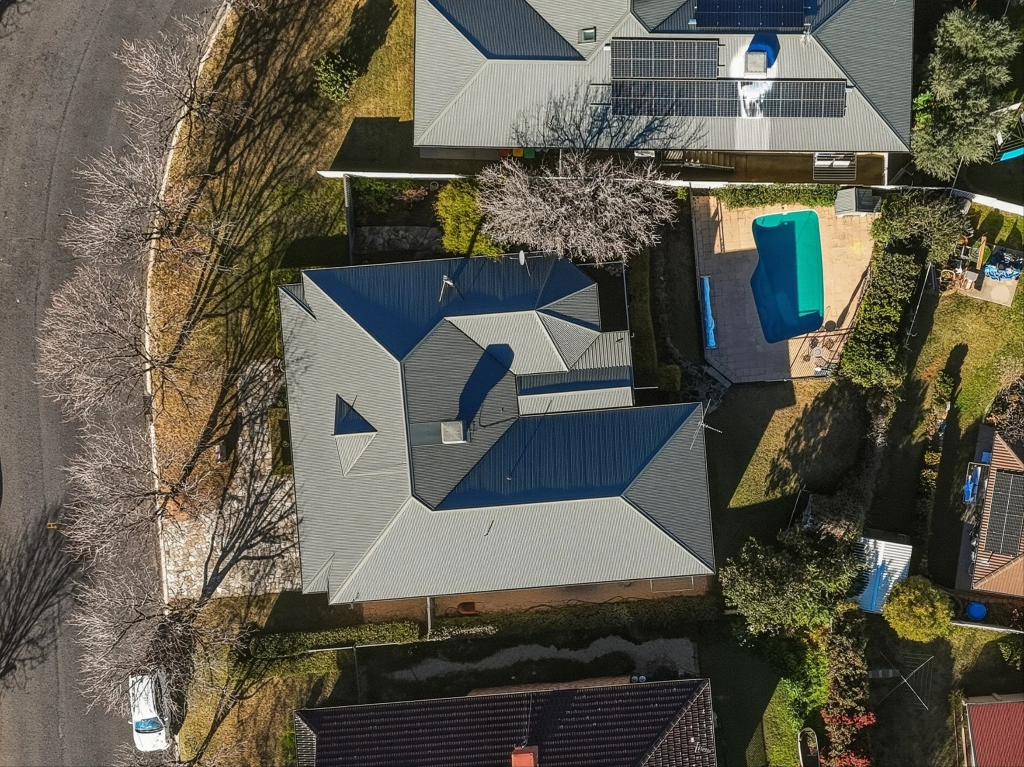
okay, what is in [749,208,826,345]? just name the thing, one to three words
swimming pool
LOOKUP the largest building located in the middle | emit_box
[274,252,717,608]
